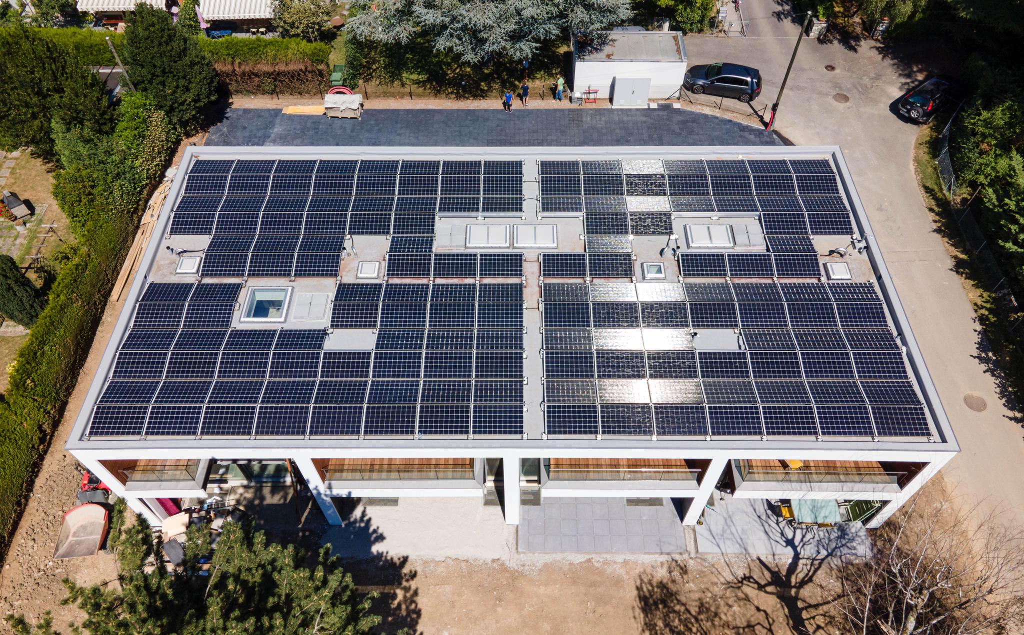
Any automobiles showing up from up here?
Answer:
Yes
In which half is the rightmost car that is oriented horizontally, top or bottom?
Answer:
top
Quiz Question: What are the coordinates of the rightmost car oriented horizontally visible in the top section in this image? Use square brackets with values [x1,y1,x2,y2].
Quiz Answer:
[686,61,767,102]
